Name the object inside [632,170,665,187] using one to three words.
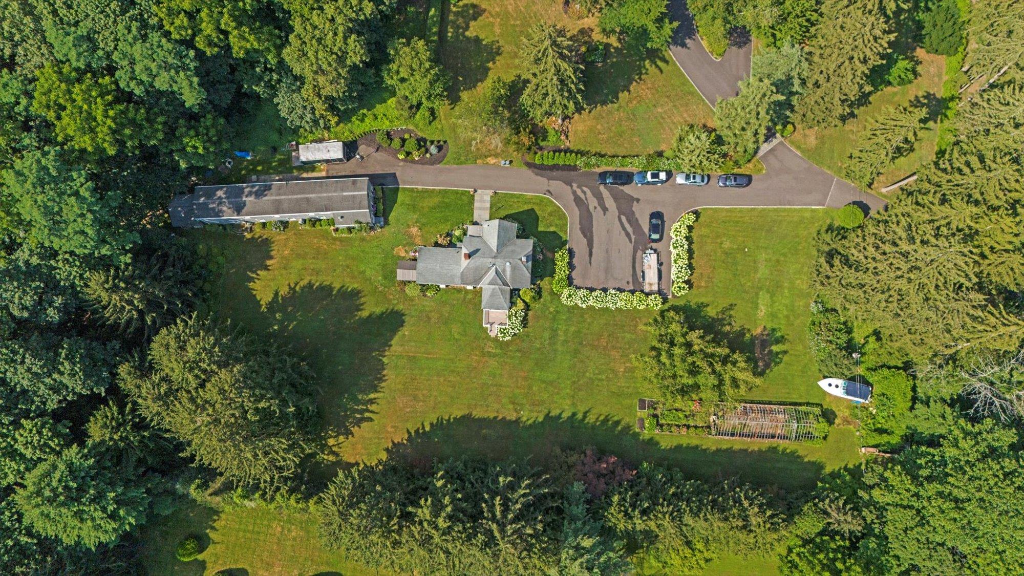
car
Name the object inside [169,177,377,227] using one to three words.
house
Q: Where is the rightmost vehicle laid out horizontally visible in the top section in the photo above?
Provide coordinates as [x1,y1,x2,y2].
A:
[715,173,749,189]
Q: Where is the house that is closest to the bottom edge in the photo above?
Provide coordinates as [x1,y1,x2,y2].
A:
[397,219,533,337]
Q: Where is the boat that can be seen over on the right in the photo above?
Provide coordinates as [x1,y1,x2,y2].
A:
[817,379,870,405]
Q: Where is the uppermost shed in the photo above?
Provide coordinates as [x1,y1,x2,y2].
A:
[292,142,348,168]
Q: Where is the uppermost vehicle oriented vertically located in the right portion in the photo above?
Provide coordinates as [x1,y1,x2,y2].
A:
[647,211,664,244]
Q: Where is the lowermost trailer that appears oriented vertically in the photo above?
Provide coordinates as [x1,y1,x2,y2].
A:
[640,244,661,294]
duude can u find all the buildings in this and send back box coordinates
[169,177,377,227]
[292,142,348,168]
[397,219,533,337]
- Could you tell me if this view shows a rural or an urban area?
rural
